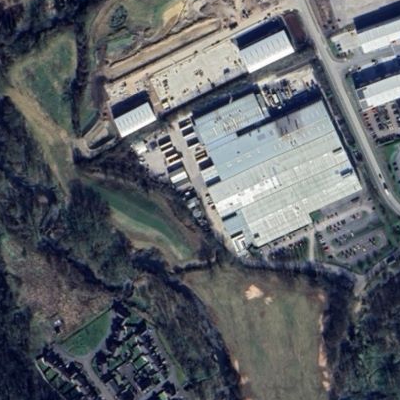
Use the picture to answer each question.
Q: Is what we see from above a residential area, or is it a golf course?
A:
residential area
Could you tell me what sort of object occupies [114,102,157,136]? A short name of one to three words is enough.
building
